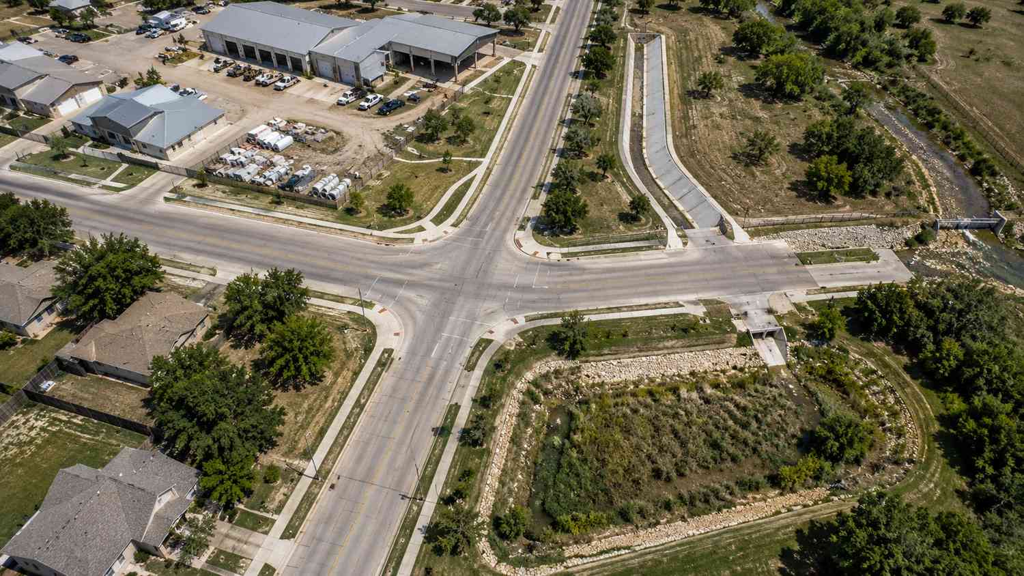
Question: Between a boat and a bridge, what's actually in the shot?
bridge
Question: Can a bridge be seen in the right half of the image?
Yes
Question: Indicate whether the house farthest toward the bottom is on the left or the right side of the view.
left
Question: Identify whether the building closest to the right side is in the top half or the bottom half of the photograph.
top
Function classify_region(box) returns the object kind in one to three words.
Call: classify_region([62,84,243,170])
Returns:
building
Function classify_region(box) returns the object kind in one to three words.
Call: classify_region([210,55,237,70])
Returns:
vehicle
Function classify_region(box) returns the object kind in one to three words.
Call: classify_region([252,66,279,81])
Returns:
vehicle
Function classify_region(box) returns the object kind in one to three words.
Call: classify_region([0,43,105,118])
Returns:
building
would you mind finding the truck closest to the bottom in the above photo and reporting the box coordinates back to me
[282,164,315,186]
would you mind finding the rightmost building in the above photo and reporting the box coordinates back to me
[199,4,506,89]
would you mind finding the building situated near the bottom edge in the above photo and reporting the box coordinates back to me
[0,446,205,576]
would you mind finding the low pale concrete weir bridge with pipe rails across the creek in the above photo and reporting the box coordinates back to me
[932,206,1008,240]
